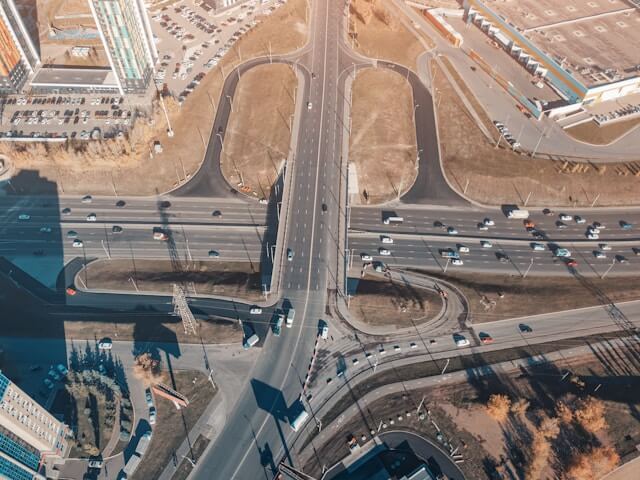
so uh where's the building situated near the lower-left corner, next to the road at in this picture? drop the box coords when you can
[0,372,75,480]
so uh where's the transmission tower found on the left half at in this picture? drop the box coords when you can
[166,277,196,337]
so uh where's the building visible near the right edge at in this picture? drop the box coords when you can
[457,0,640,101]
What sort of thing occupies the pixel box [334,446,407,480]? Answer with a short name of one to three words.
building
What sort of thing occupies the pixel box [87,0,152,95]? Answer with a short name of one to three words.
building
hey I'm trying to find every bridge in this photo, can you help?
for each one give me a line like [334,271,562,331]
[268,161,347,289]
